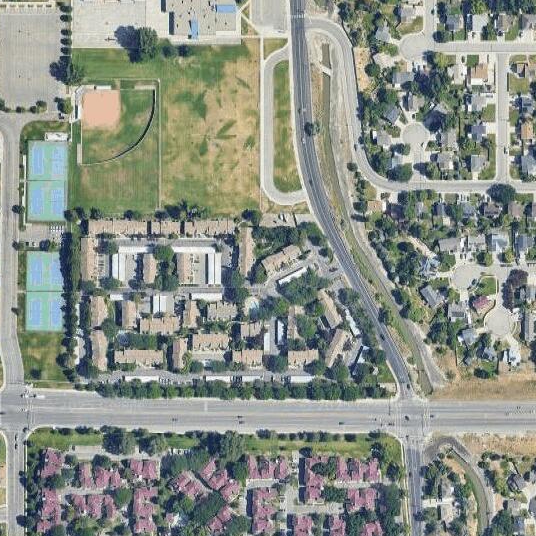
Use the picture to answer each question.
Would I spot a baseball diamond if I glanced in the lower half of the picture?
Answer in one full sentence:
No, no baseball diamond is visible in the lower half of the picture.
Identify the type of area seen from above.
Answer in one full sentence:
The area seen from above is a residential area.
